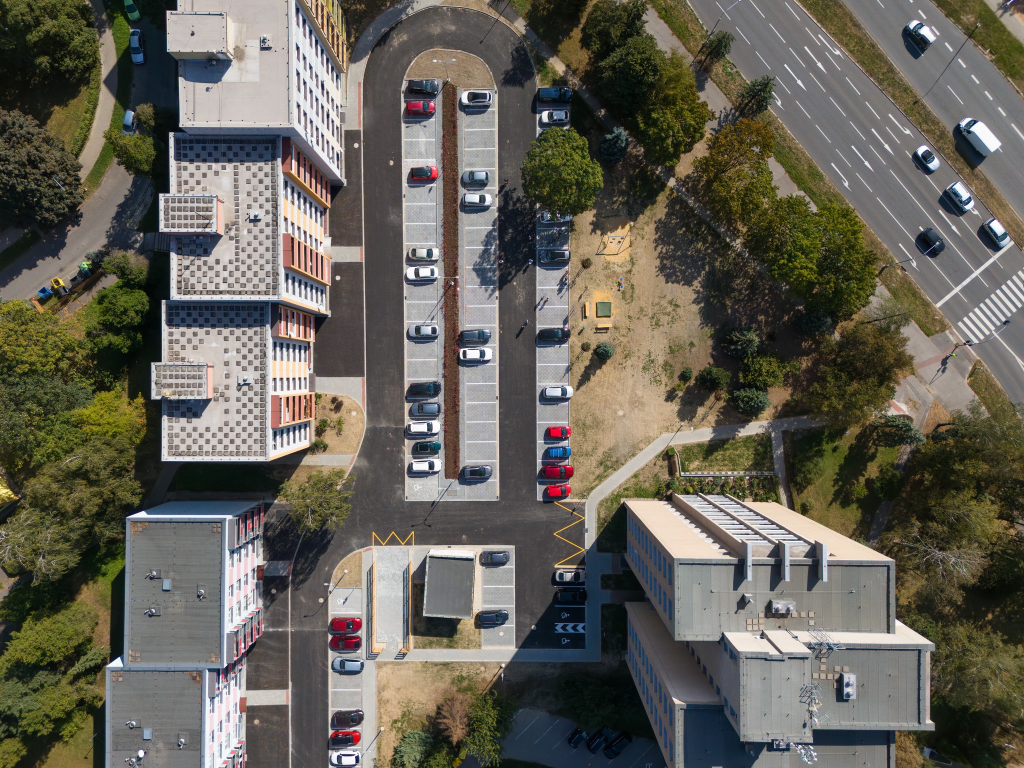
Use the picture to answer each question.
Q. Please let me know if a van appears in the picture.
Yes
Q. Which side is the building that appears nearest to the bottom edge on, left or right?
left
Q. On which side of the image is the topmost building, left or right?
left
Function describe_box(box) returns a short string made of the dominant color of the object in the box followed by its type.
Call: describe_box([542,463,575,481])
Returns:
red car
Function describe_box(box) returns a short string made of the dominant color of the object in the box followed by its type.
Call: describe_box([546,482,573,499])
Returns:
red car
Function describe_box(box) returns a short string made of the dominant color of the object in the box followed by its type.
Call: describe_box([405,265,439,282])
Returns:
white car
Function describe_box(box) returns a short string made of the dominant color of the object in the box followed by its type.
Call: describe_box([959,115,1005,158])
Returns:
white van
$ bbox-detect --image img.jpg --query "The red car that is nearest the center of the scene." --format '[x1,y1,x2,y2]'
[546,424,572,440]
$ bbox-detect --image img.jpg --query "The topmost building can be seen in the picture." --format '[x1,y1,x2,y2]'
[166,0,354,186]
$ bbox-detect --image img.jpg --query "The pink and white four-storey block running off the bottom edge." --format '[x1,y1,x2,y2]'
[102,650,248,768]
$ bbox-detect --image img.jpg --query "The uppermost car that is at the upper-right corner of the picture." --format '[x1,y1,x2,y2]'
[904,18,938,51]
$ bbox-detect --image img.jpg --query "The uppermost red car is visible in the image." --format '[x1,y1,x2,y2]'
[405,98,436,117]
